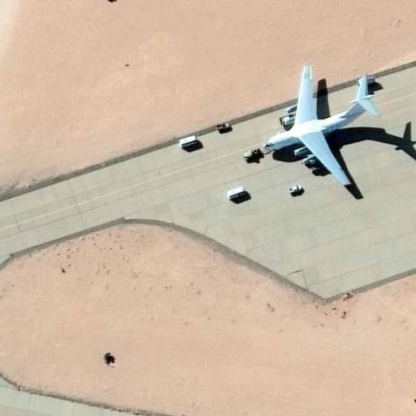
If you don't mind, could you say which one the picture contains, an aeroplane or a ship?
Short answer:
aeroplane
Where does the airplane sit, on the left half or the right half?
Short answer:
right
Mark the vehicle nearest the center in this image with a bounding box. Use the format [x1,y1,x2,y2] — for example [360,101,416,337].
[229,188,248,200]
